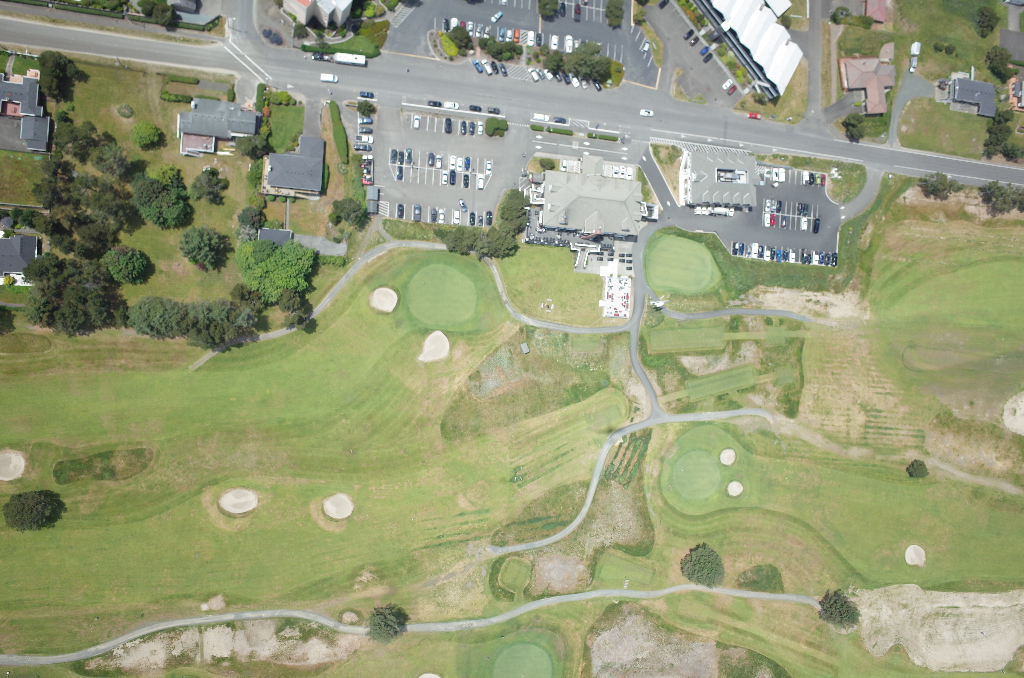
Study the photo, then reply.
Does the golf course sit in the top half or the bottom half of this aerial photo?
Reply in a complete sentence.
You can find the golf course in the bottom half.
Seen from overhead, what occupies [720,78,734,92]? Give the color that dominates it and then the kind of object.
white car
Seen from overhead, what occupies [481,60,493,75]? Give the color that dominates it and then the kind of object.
white vehicle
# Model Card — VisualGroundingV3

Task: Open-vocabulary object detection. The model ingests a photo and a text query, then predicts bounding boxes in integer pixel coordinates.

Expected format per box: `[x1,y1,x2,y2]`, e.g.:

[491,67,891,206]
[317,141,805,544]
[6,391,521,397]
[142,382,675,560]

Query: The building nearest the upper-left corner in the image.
[0,73,47,116]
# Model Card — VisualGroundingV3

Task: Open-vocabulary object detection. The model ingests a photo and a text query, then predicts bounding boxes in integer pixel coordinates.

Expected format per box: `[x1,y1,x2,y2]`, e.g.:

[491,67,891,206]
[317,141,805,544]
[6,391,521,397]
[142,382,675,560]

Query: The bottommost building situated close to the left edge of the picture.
[0,235,42,277]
